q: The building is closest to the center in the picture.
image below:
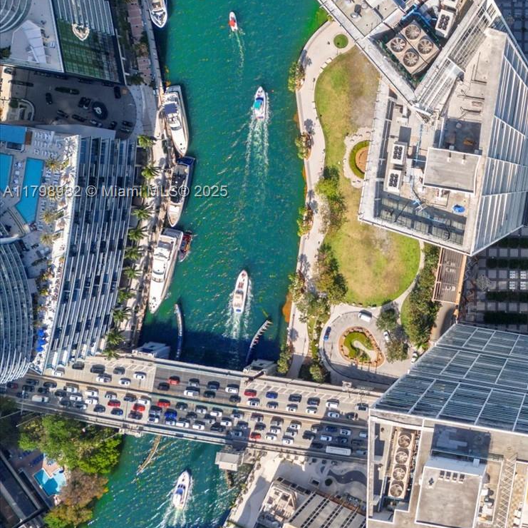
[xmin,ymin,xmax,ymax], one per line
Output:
[242,354,280,377]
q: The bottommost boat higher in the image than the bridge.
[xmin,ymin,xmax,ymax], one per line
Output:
[233,271,248,314]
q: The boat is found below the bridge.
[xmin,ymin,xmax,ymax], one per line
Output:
[173,470,192,510]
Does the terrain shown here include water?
Yes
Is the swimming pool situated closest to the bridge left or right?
left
